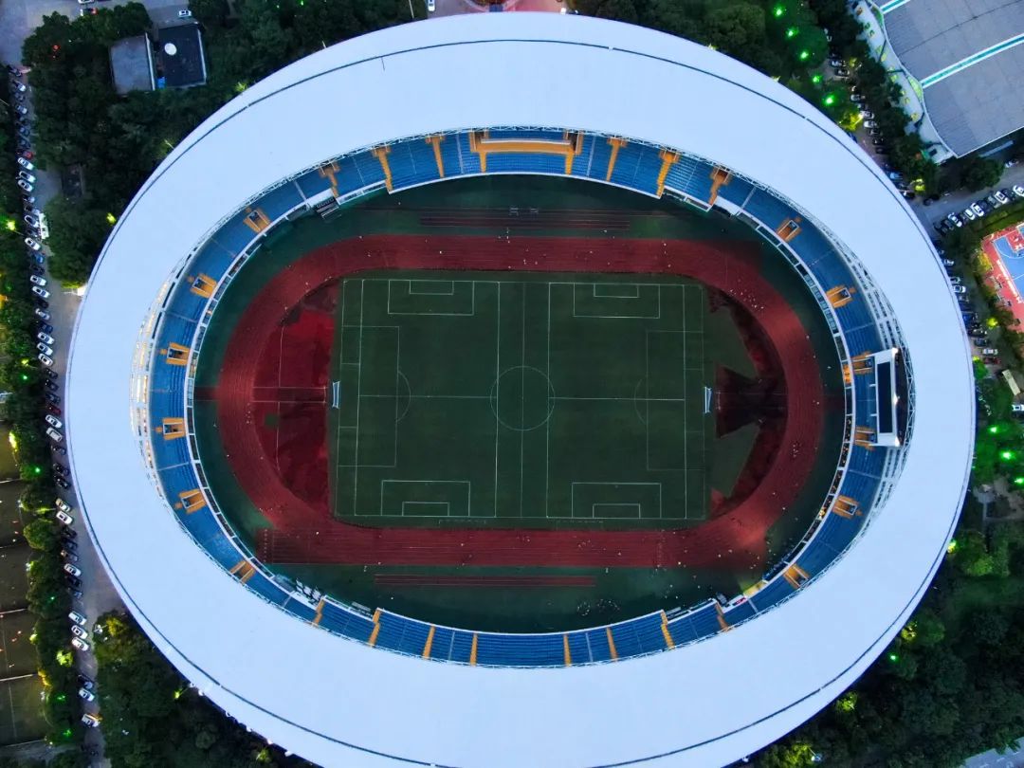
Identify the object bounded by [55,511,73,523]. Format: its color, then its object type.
white vehicle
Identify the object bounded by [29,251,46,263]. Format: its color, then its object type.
blue vehicle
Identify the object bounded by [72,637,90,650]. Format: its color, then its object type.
white vehicle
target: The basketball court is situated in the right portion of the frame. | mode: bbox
[982,223,1024,332]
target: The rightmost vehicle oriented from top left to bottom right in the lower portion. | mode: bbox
[714,589,729,606]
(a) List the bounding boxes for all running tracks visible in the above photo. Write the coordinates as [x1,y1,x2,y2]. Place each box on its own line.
[194,175,846,635]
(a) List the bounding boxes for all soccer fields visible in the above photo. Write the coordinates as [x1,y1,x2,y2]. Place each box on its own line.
[329,270,712,530]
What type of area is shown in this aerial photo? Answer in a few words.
sports ground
